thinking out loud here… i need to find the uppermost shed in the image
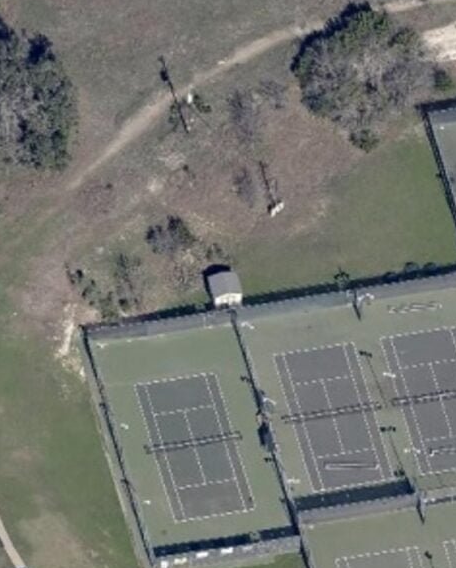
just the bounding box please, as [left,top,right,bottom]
[209,270,243,310]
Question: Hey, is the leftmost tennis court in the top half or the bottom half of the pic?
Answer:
bottom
